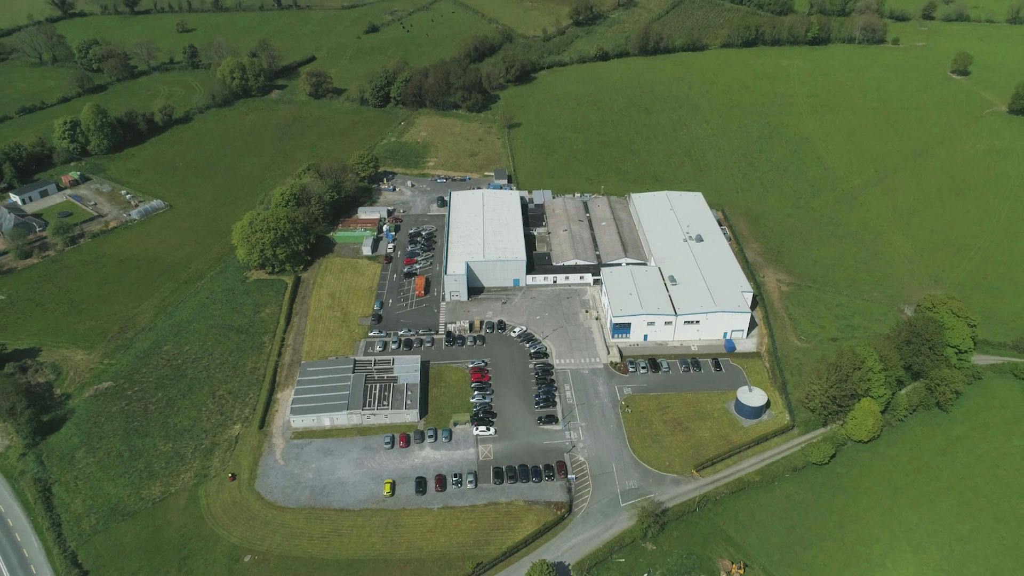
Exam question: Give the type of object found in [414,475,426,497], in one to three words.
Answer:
vehicle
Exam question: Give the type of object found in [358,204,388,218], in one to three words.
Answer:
shed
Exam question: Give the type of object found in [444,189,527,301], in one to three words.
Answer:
building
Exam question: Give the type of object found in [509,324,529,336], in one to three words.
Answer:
vehicle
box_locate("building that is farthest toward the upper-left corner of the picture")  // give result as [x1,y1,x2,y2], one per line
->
[5,178,59,205]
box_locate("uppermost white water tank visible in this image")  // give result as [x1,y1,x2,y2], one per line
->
[732,377,770,423]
